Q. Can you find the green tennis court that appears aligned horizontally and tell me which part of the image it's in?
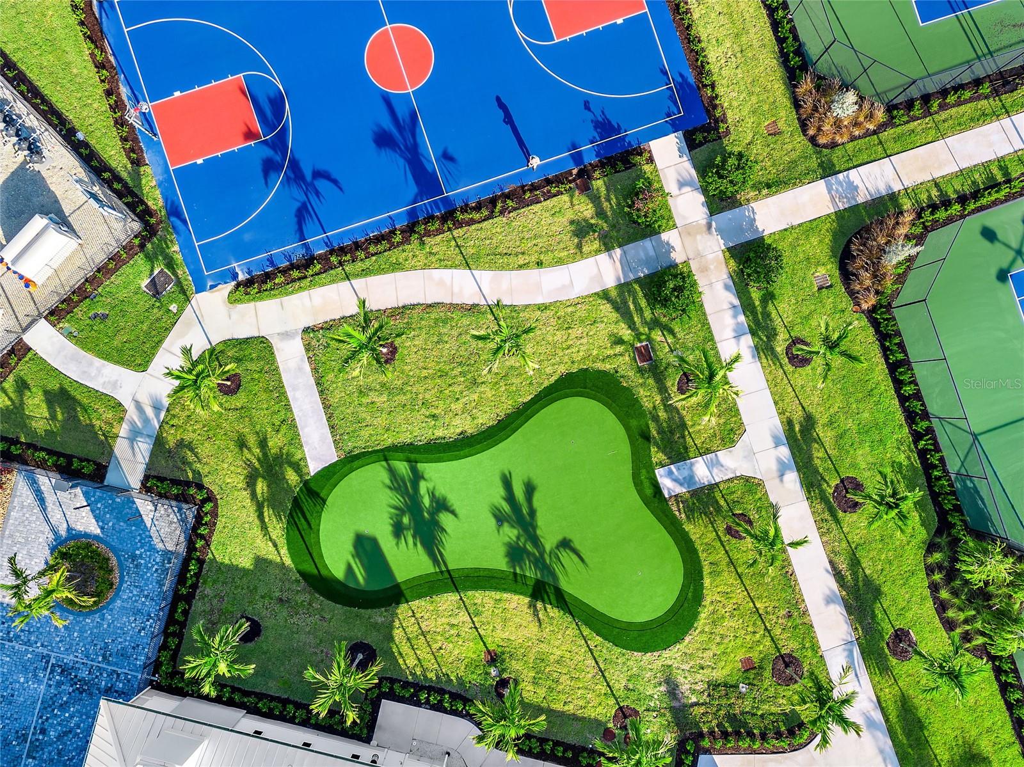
top right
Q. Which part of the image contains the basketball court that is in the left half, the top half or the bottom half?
top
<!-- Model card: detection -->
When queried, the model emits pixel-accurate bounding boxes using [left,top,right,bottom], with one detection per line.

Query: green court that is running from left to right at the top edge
[788,0,1024,103]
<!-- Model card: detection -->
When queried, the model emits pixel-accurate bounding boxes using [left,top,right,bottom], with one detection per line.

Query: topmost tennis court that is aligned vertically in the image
[894,199,1024,549]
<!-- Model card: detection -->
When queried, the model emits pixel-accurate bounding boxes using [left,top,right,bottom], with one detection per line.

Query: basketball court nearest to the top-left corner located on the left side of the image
[93,0,709,294]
